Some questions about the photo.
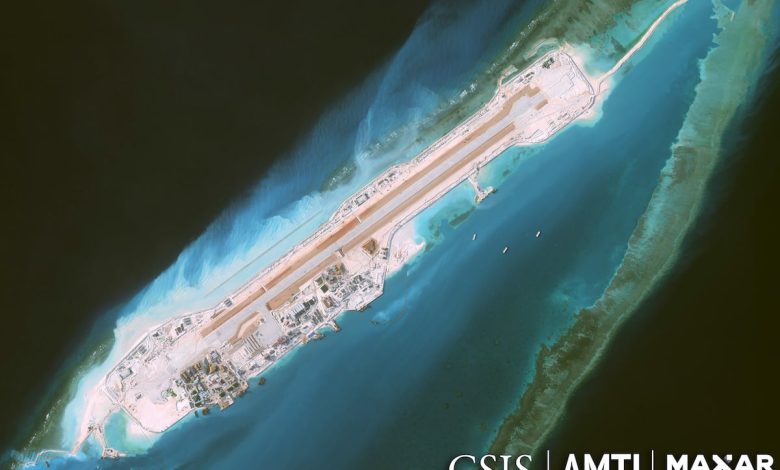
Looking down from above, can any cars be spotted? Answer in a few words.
No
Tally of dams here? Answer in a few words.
0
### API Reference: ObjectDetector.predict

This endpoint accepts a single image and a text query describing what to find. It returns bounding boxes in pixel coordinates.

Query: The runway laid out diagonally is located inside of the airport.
[189,112,519,353]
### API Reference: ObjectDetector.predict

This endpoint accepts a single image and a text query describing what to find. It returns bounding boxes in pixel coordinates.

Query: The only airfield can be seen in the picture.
[189,85,548,359]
